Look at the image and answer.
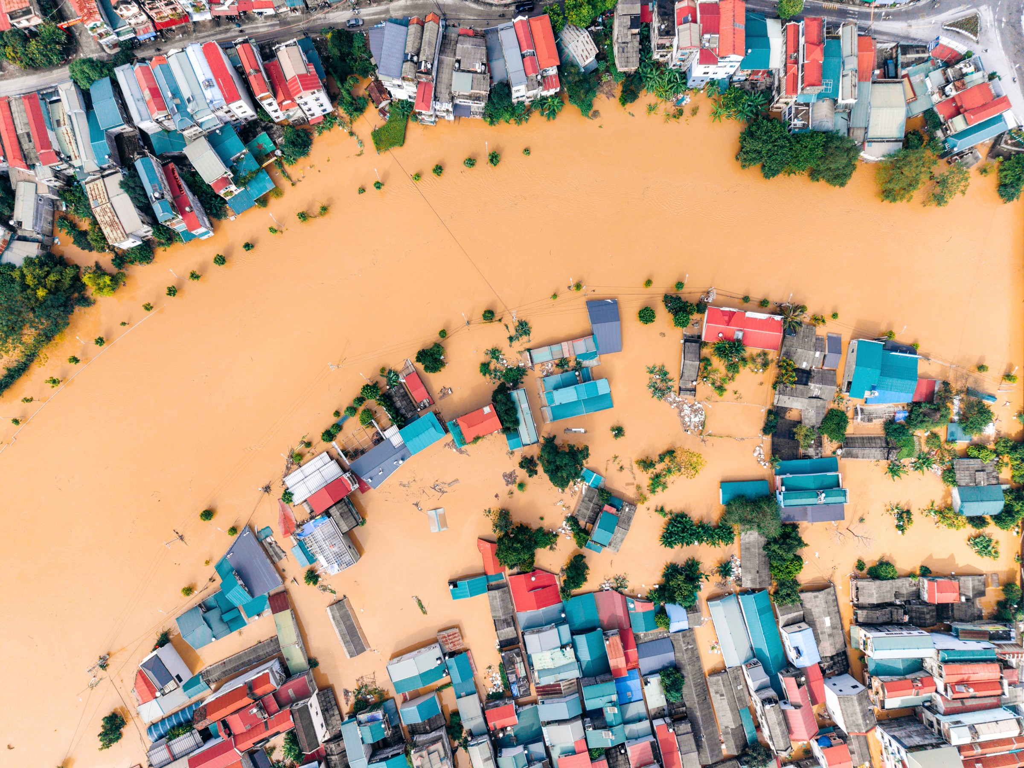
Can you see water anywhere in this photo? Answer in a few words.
Yes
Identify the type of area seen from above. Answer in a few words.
residential area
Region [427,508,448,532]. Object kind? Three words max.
greenhouse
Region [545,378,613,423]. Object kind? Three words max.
building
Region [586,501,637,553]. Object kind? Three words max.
house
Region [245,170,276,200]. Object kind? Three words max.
shed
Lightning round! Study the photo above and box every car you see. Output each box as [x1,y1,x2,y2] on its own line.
[515,1,535,12]
[344,16,364,27]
